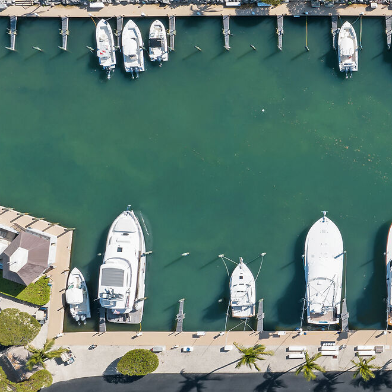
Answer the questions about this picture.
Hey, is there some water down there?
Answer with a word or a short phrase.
Yes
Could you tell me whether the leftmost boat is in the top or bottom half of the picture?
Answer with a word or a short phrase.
bottom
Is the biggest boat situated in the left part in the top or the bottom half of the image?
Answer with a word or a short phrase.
bottom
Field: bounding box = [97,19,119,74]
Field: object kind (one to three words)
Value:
boat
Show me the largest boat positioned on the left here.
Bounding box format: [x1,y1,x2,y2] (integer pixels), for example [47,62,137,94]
[98,208,148,322]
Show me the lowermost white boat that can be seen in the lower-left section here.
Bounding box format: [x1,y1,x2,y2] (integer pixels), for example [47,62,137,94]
[66,268,92,327]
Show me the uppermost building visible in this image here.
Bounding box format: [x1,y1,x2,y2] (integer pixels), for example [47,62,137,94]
[3,233,59,286]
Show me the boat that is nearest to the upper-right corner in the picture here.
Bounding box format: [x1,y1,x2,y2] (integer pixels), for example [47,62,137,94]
[337,21,360,79]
